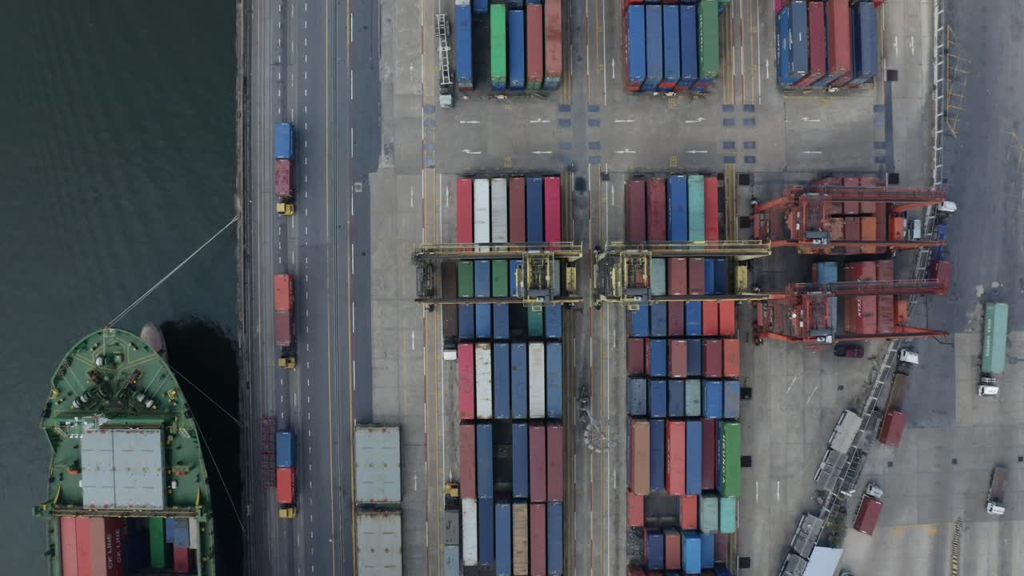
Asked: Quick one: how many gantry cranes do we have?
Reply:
4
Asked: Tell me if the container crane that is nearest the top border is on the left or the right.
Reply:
right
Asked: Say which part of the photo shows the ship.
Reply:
bottom left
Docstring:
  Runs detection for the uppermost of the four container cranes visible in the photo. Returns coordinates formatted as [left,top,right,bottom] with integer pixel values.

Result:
[751,185,952,263]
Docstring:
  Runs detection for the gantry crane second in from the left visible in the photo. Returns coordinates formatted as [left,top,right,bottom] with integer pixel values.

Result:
[593,242,777,315]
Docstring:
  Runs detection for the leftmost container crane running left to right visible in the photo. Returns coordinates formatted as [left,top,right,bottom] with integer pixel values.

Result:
[411,243,583,314]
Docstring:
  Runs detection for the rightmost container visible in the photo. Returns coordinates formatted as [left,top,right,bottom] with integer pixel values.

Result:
[982,302,1008,373]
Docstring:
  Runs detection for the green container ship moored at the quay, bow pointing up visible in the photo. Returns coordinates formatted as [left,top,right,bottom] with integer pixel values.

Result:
[33,323,226,576]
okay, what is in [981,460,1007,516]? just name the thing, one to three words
truck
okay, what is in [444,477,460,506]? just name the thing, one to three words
vehicle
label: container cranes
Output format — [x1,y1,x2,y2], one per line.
[593,242,777,315]
[753,273,954,347]
[751,185,952,263]
[411,243,583,314]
